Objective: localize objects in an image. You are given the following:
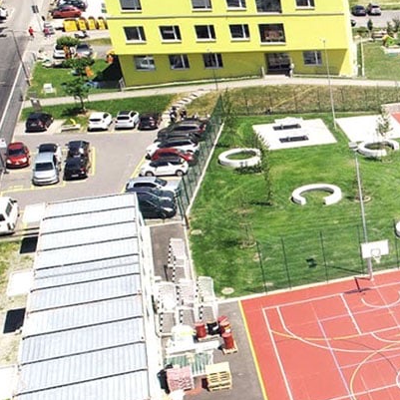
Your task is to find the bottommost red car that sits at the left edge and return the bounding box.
[2,140,30,165]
